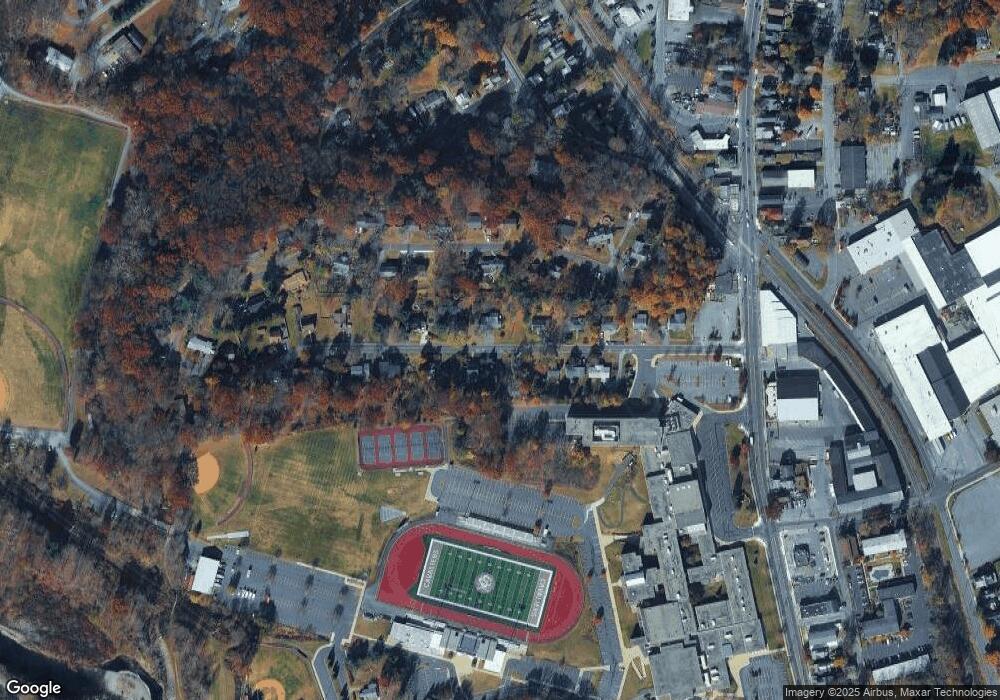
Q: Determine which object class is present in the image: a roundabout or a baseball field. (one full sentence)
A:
There is a baseball field in the scene.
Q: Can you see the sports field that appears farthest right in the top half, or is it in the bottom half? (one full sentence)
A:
The bottom half of the photo is where the sports field that appears farthest right is.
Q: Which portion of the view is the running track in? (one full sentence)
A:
The running track appears toward the bottom of the photo.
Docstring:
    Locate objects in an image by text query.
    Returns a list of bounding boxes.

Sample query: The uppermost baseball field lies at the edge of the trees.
[0,299,69,432]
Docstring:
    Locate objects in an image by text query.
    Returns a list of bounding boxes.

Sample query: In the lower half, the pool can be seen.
[870,563,894,582]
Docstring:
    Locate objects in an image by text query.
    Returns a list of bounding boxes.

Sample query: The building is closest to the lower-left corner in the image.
[192,556,221,594]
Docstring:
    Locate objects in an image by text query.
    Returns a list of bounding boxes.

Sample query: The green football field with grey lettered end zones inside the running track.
[406,534,558,632]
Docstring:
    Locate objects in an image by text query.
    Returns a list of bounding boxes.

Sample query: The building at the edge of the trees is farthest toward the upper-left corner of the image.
[46,48,74,70]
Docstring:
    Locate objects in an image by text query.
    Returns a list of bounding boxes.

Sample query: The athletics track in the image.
[371,518,584,642]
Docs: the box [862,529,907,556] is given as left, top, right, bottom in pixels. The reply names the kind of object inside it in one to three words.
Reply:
building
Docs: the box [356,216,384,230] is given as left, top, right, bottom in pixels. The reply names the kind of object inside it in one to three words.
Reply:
house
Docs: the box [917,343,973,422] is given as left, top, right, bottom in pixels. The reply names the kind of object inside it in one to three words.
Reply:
shed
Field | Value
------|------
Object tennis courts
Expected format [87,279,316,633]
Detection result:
[361,436,376,464]
[378,434,393,463]
[409,432,425,460]
[426,431,440,459]
[394,433,408,461]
